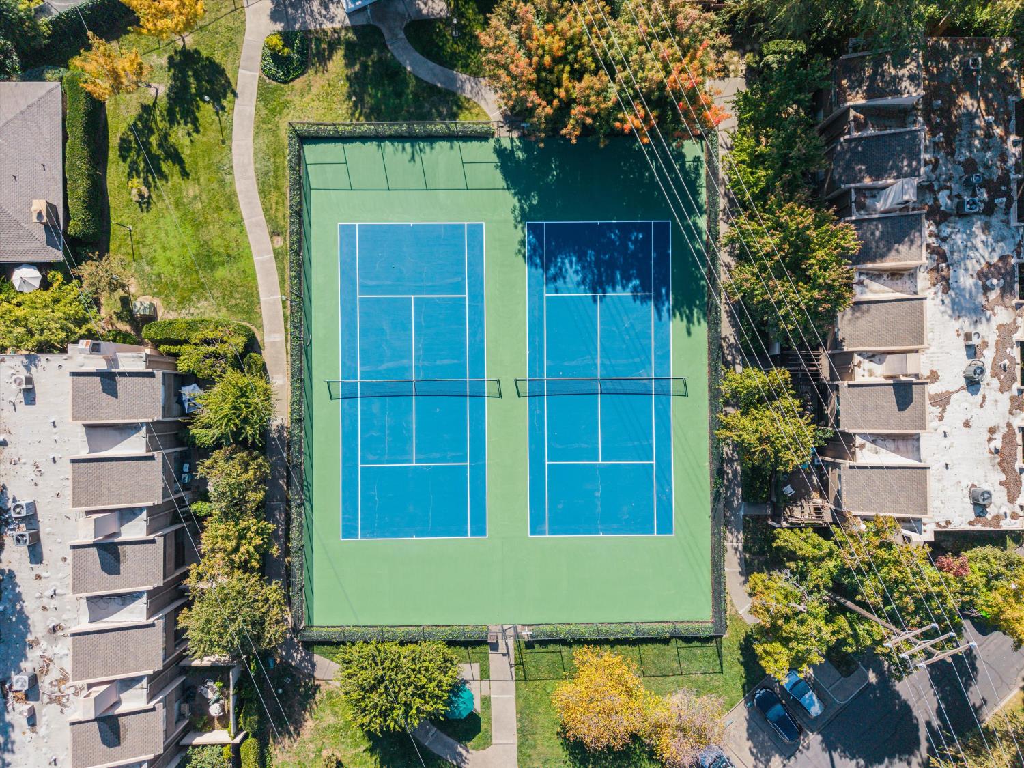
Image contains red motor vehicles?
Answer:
No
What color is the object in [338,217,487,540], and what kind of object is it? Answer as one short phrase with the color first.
blue tennis court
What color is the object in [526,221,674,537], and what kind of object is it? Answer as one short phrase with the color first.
blue tennis court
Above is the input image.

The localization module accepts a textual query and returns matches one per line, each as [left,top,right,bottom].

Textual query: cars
[696,736,735,768]
[780,663,827,722]
[752,682,806,751]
